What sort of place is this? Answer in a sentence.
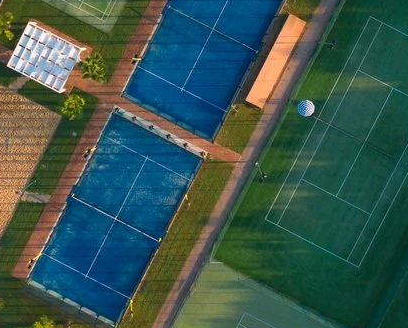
What you see here is a sports ground.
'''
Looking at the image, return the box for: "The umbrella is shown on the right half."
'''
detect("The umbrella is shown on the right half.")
[297,99,315,117]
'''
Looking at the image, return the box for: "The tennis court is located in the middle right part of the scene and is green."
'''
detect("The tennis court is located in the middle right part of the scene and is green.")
[213,0,408,328]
